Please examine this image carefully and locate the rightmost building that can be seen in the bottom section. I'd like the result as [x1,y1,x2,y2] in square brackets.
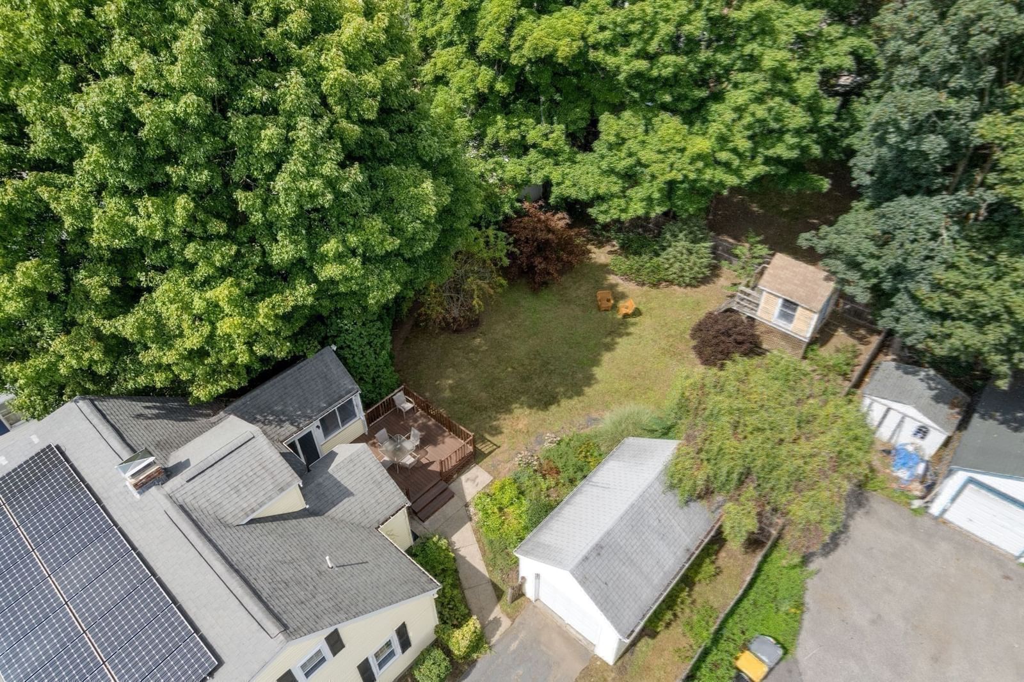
[930,372,1024,570]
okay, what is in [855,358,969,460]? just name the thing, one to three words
shed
